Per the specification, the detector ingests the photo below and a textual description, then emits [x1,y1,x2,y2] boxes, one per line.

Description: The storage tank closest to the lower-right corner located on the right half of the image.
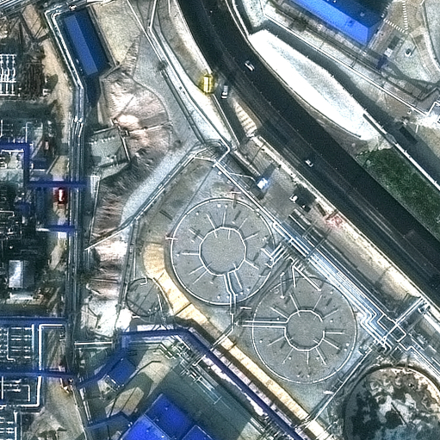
[342,365,440,440]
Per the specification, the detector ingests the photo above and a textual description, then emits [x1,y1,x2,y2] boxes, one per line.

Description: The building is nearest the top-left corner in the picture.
[63,9,112,75]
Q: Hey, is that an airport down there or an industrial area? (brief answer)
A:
industrial area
